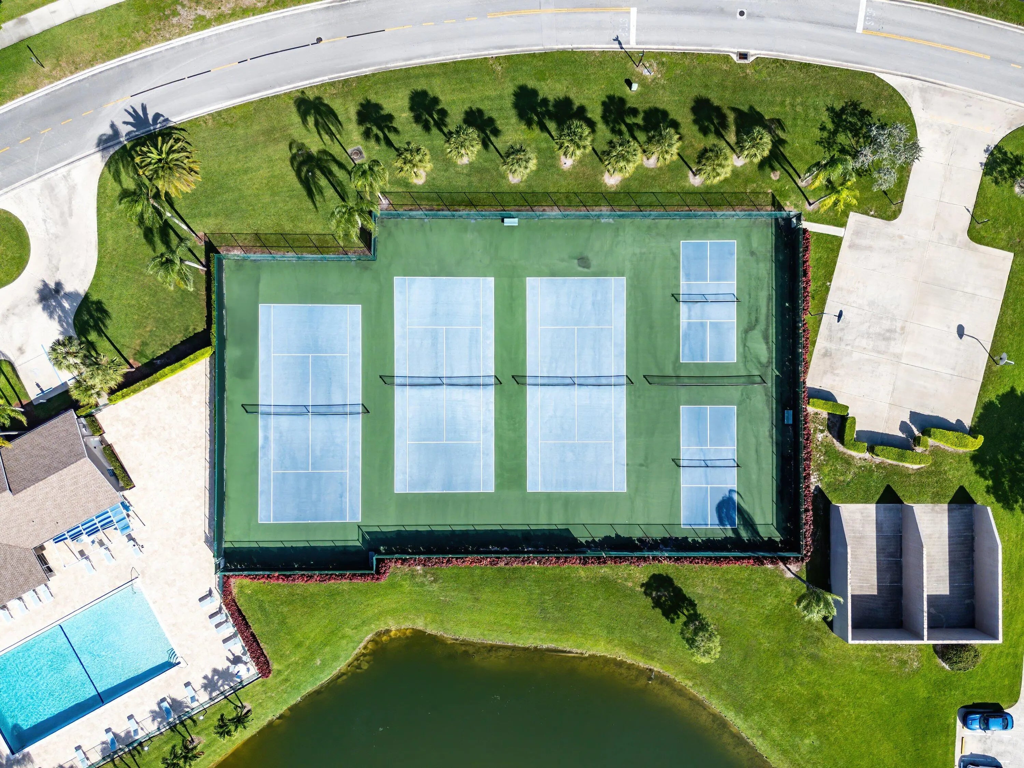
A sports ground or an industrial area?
sports ground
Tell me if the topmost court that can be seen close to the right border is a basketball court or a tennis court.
basketball court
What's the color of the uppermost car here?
blue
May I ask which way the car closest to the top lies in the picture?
horizontally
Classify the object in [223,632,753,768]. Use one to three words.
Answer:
pond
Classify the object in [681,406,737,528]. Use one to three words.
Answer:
sports court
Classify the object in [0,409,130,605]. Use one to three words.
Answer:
building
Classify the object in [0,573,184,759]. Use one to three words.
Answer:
swimming pool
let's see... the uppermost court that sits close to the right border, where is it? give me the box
[811,213,1013,451]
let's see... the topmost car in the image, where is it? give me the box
[964,710,1014,733]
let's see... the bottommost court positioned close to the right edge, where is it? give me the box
[831,504,1001,643]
